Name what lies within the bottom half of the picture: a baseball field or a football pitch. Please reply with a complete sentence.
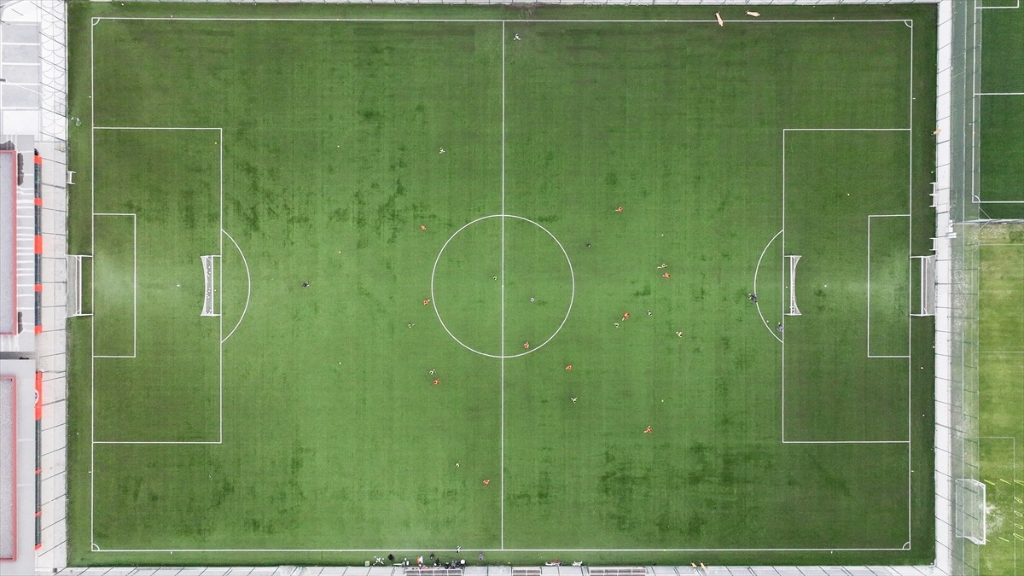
Looking within the bottom half of the picture, you will find a football pitch.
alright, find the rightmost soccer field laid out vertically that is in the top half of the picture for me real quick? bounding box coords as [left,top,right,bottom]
[951,0,1024,222]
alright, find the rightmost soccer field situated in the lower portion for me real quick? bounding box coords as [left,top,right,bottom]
[962,224,1024,576]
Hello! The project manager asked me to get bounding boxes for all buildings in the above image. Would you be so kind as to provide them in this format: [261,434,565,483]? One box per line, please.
[0,135,43,351]
[0,358,44,576]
